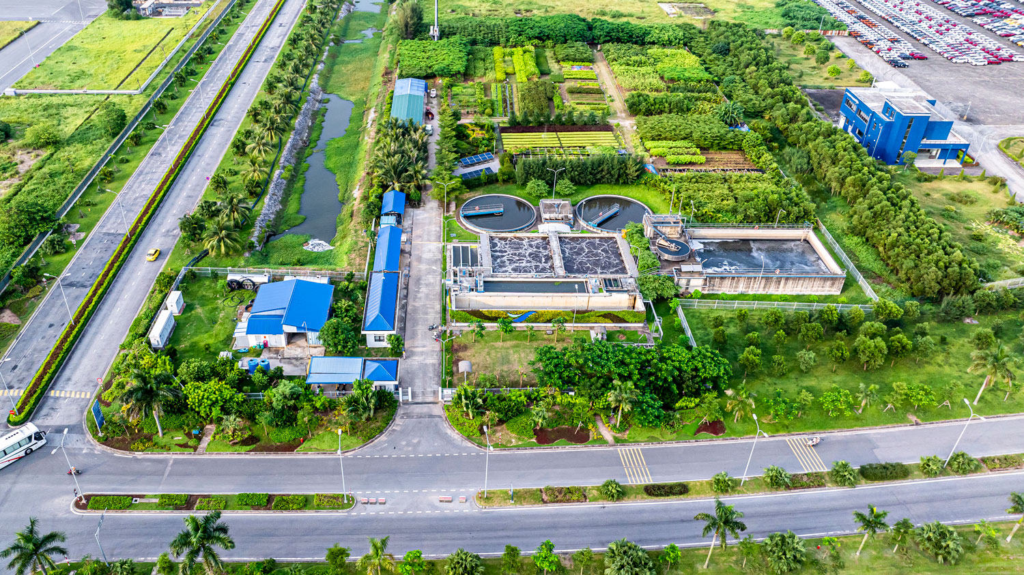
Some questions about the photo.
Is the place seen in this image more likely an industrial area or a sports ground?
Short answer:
industrial area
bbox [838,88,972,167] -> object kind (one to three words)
building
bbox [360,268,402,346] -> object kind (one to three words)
house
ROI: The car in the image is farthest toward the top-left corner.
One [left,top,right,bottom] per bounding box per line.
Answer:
[143,245,161,259]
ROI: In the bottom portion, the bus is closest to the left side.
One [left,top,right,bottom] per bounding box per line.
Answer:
[0,419,48,465]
